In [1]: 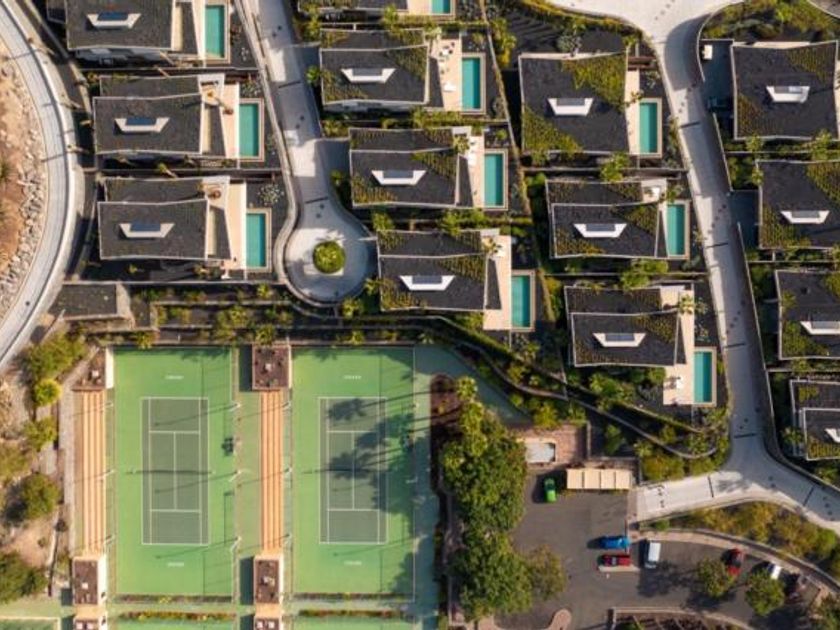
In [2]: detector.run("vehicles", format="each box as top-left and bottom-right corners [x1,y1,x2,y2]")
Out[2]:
[643,538,660,568]
[699,44,712,63]
[724,546,741,574]
[781,571,805,599]
[600,535,628,550]
[763,557,781,585]
[543,478,557,502]
[599,552,632,568]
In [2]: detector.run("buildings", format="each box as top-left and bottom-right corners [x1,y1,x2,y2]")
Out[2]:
[563,280,729,426]
[254,613,281,630]
[763,271,840,360]
[774,378,840,461]
[349,124,528,219]
[253,555,282,603]
[72,347,111,389]
[98,172,292,279]
[93,75,282,167]
[73,556,104,604]
[320,27,505,119]
[48,0,257,67]
[253,346,290,389]
[745,159,840,249]
[544,173,707,270]
[52,285,137,318]
[517,53,682,168]
[722,38,840,144]
[74,610,104,630]
[377,224,560,352]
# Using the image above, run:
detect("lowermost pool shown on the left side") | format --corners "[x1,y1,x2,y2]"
[246,208,272,272]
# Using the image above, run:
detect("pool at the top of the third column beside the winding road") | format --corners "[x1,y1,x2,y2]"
[639,98,662,158]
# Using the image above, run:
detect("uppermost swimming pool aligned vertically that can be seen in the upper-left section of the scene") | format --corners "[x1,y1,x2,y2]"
[205,0,230,62]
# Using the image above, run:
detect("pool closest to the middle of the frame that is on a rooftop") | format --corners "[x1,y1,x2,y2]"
[509,270,536,331]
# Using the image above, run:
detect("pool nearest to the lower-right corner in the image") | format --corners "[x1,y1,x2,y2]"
[692,346,717,407]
